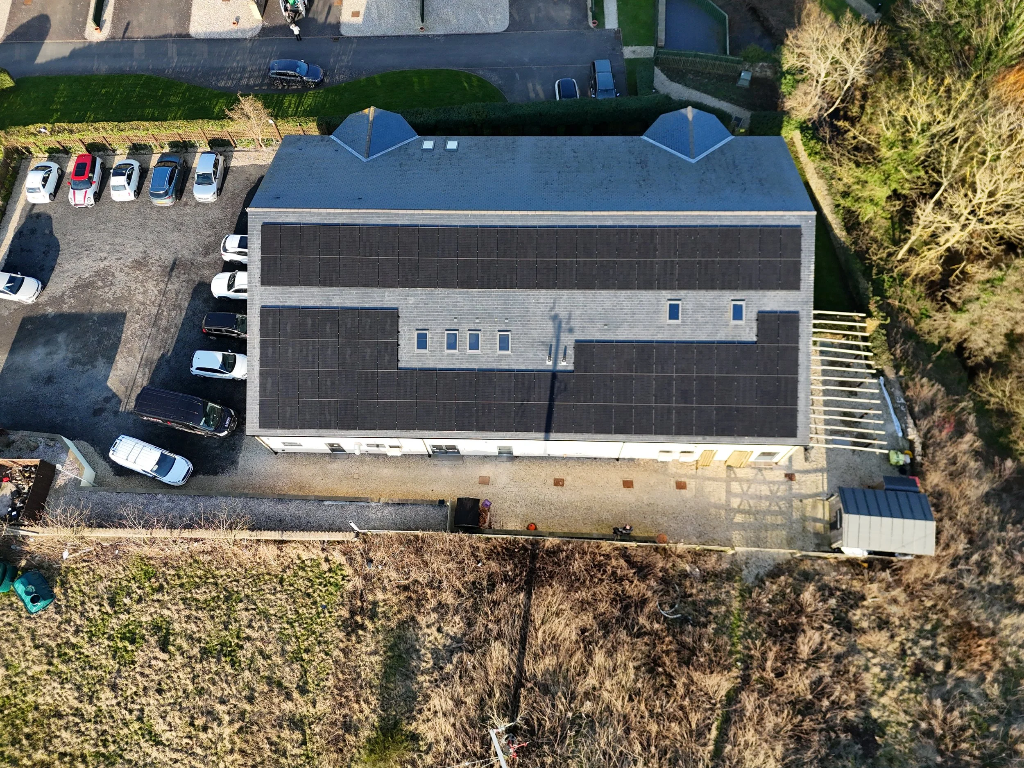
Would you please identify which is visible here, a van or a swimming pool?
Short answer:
van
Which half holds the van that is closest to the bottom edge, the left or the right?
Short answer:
left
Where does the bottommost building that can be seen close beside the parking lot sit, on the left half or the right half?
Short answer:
left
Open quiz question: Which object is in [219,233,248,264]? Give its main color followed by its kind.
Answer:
white car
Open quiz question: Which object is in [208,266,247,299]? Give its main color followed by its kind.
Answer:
white car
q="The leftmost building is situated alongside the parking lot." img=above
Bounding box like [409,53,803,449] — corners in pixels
[0,457,61,522]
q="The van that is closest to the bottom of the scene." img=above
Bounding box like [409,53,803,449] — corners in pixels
[102,434,198,492]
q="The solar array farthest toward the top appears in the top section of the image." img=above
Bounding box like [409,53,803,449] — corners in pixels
[259,225,803,289]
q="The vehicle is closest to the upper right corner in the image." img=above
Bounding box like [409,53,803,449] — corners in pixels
[589,65,617,96]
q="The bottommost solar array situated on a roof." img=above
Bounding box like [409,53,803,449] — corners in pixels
[258,309,801,436]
